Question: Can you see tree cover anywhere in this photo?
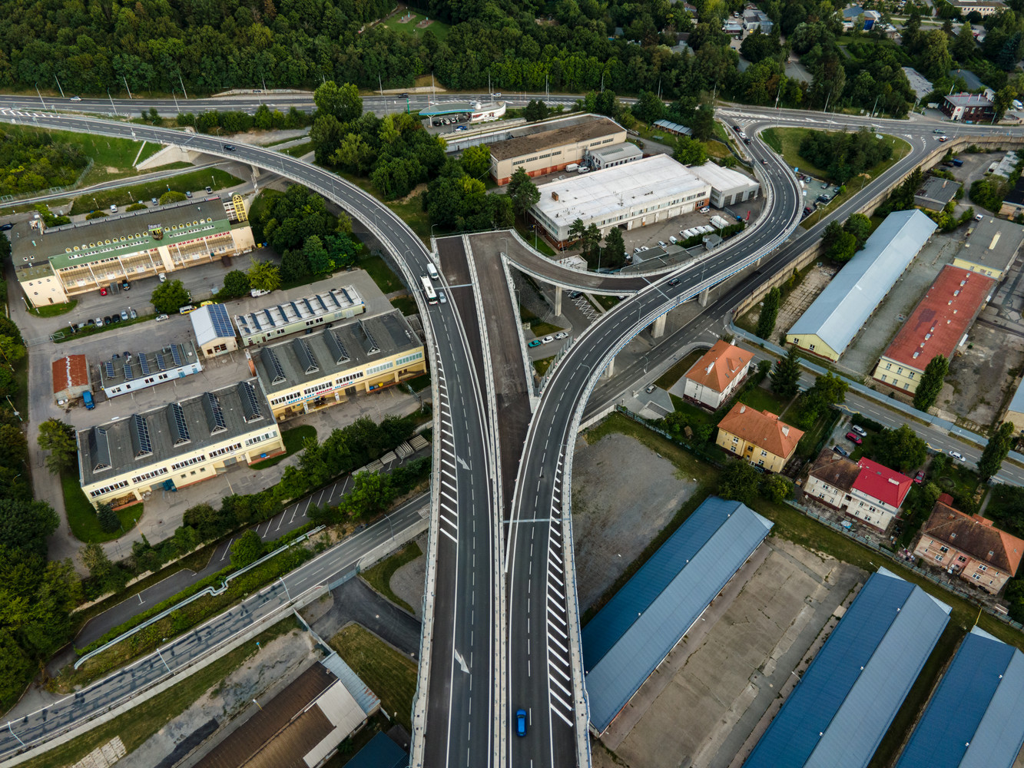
Yes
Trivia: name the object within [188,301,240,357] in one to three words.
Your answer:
barn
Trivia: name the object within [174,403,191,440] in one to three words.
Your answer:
solar array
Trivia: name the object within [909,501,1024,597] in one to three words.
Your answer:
house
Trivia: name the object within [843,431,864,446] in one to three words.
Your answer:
car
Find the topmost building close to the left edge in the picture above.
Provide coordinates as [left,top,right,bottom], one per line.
[19,189,258,307]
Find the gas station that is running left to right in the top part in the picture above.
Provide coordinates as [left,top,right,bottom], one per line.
[422,101,506,132]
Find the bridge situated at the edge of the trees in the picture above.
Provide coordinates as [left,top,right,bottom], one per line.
[0,110,804,768]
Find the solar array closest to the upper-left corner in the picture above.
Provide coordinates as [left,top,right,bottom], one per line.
[208,303,237,336]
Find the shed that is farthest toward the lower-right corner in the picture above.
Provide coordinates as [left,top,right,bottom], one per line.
[886,626,1024,768]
